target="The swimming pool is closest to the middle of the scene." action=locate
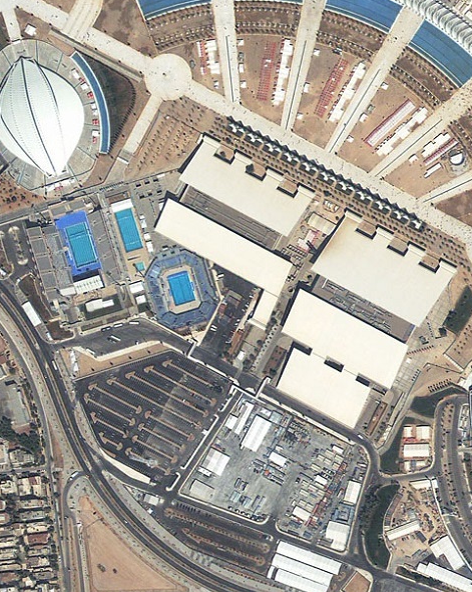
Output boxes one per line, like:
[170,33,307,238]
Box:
[110,208,148,286]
